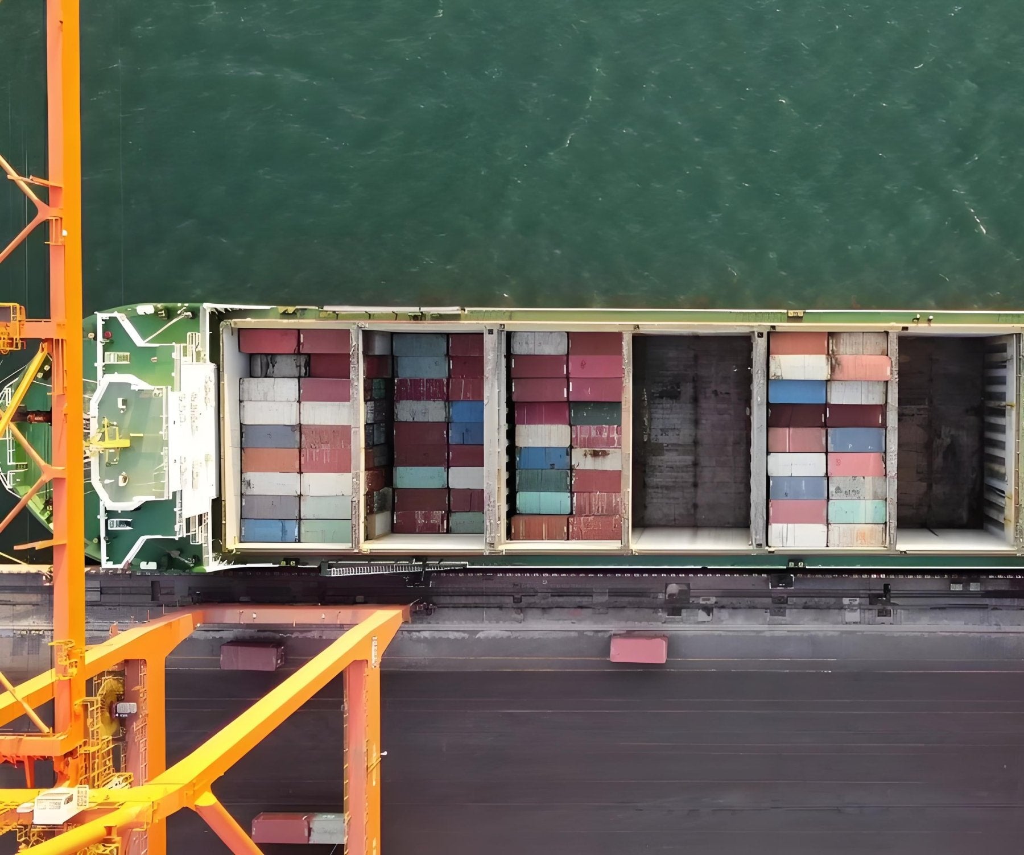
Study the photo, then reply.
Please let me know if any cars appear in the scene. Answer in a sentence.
No, I can't see a single car in this photo.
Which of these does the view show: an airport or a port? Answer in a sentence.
The picture captures a port.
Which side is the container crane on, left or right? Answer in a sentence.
It is on the left.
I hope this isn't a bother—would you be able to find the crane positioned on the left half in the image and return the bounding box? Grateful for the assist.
[0,0,444,855]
